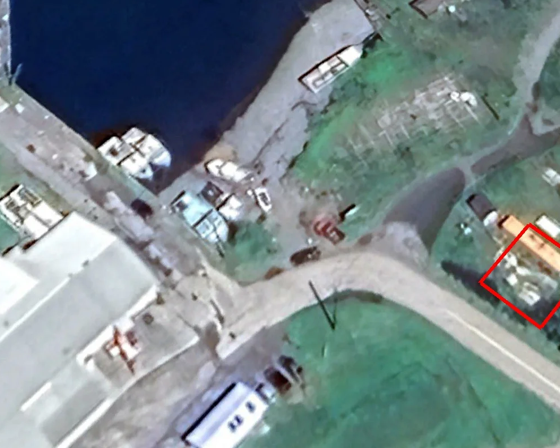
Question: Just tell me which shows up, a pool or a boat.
boat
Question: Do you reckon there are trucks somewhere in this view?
Yes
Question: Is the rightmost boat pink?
No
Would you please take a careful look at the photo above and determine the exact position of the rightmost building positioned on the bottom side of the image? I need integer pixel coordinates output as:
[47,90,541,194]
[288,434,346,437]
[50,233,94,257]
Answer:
[185,382,267,448]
